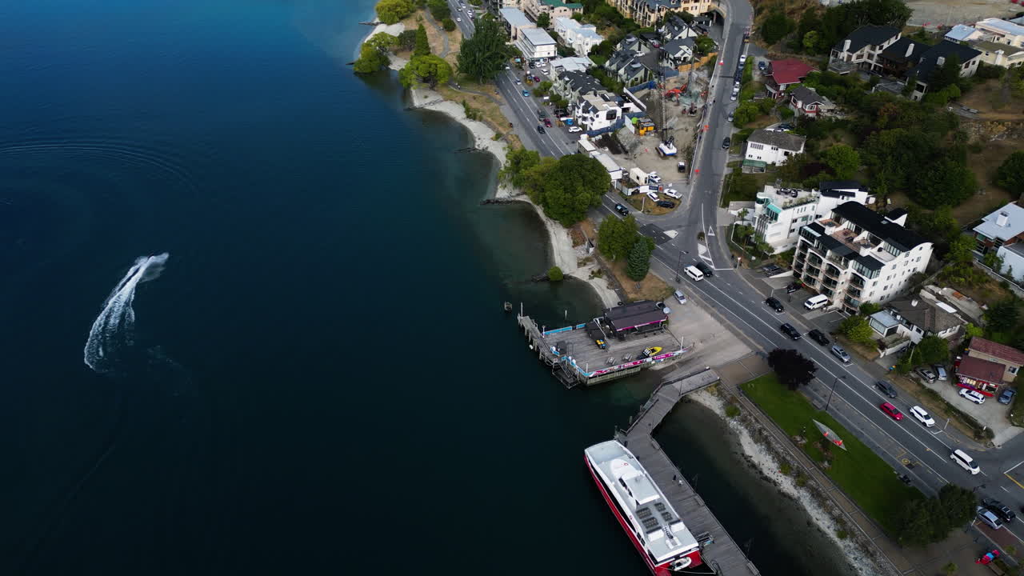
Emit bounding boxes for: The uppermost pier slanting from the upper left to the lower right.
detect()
[517,303,583,391]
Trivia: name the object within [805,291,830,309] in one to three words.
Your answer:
vehicle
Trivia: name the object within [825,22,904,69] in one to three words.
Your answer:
house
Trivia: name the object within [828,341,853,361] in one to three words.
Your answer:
car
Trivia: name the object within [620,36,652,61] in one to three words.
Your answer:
house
